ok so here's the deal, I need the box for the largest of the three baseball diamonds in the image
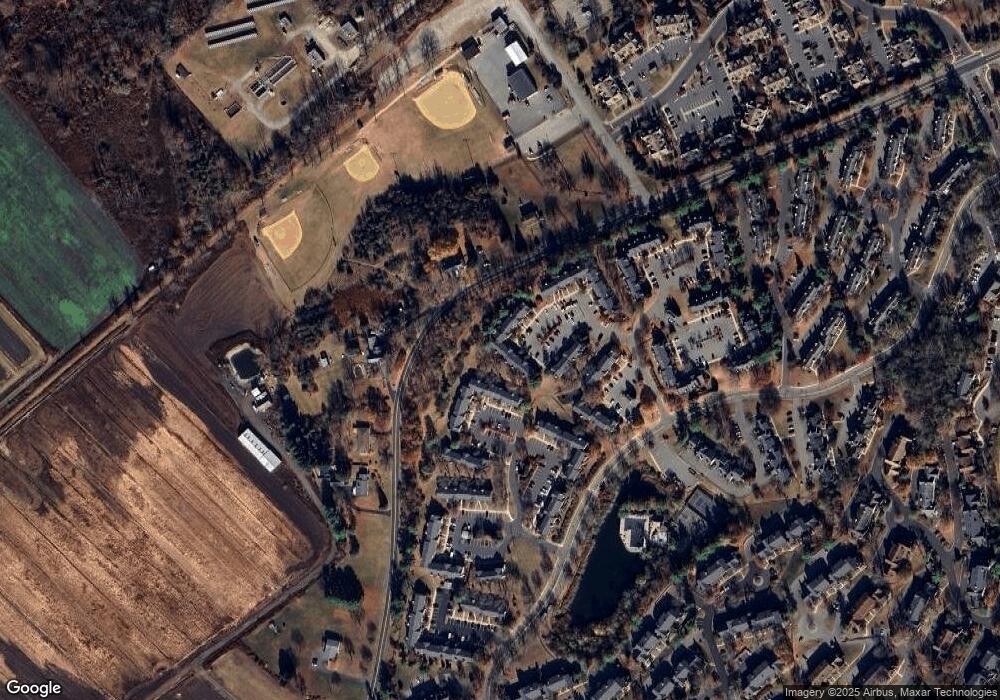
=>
[261,185,333,290]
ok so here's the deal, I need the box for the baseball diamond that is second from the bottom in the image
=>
[344,144,379,181]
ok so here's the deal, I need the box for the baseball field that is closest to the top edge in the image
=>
[415,71,476,129]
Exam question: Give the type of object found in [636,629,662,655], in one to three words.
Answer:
house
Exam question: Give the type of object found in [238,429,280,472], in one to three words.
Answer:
building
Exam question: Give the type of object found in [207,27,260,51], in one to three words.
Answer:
shed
